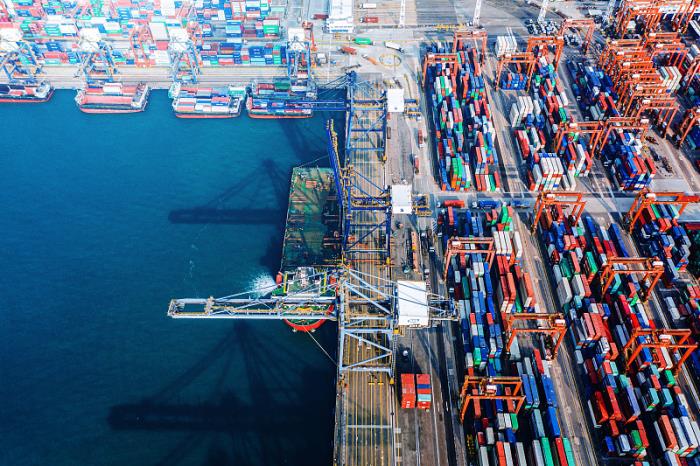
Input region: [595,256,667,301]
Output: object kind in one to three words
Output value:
container crane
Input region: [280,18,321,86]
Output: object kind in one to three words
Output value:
container crane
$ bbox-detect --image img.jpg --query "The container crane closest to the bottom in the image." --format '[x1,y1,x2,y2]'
[459,375,531,424]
